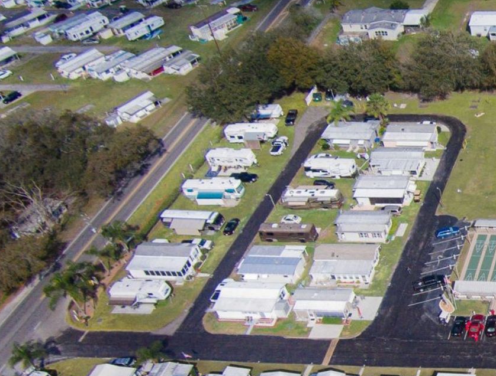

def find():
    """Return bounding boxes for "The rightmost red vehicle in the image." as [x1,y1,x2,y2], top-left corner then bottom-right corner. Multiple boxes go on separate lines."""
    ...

[467,316,483,338]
